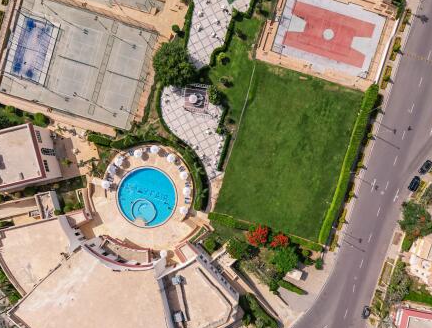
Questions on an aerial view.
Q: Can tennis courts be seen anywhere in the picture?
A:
Yes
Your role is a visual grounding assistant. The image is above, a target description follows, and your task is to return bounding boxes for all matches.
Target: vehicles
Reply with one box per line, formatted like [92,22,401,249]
[362,306,370,319]
[418,159,432,175]
[408,176,420,192]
